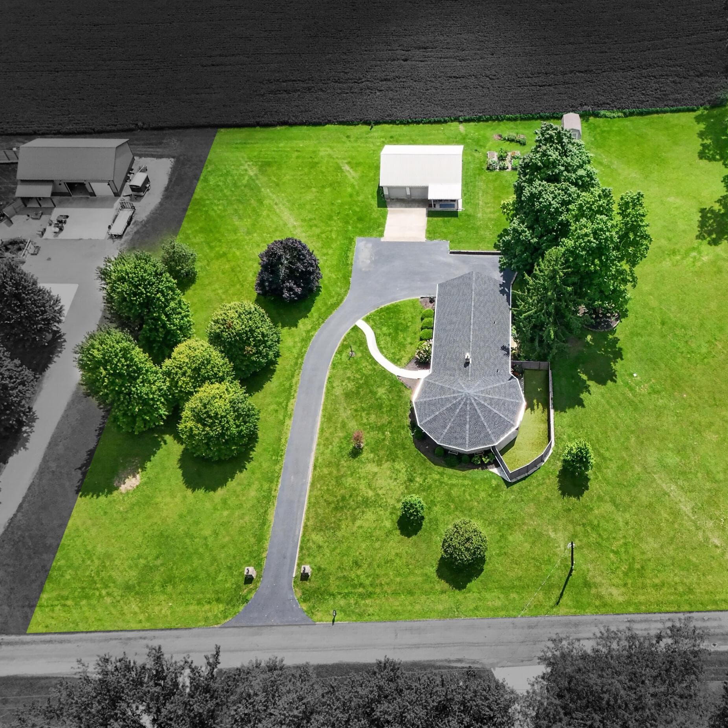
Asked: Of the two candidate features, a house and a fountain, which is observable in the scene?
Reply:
house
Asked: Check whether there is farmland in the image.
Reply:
Yes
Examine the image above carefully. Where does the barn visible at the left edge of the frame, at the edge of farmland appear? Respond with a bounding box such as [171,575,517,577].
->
[15,139,136,207]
